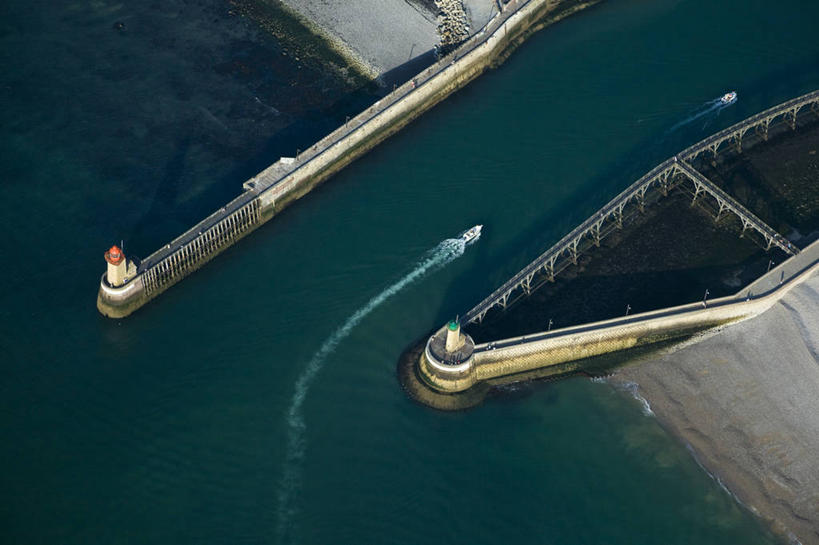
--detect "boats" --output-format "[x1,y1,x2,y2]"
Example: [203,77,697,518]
[461,222,482,242]
[720,91,736,103]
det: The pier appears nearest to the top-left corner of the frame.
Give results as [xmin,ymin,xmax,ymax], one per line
[96,0,569,319]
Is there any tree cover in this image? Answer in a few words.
No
